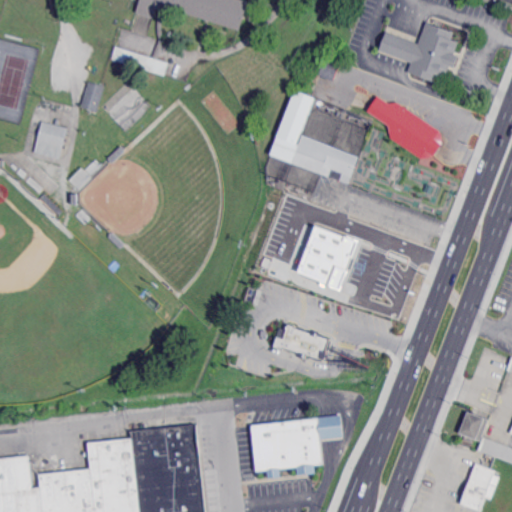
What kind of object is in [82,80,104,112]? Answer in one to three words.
shed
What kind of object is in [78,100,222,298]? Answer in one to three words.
baseball field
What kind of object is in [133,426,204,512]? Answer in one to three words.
building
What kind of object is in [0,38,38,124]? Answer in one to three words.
tennis court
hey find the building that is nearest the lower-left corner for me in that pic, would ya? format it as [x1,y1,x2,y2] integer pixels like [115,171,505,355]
[0,438,140,512]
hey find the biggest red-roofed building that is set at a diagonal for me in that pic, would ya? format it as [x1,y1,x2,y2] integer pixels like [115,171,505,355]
[366,96,442,159]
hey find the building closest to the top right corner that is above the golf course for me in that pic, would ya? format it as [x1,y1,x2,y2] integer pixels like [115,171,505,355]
[380,21,460,80]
